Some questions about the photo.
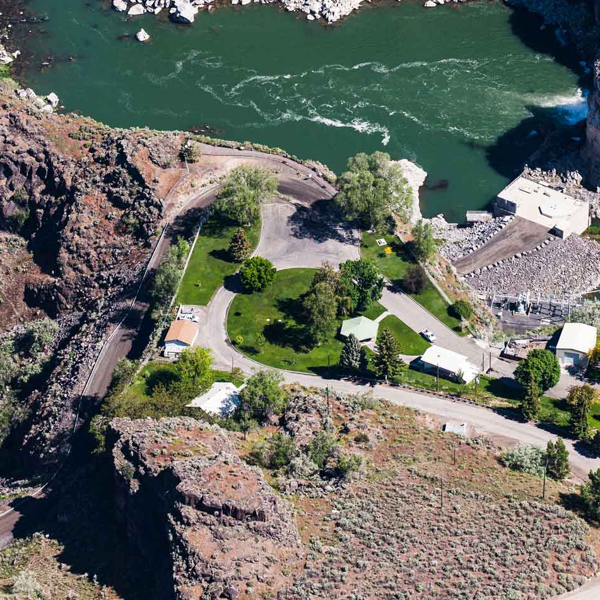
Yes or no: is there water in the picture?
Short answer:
Yes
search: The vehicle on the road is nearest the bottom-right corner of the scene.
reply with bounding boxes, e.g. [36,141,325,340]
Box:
[418,329,439,342]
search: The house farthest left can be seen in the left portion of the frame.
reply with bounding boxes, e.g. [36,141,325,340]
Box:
[163,322,200,359]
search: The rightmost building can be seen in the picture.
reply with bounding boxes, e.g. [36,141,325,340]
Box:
[556,321,593,366]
